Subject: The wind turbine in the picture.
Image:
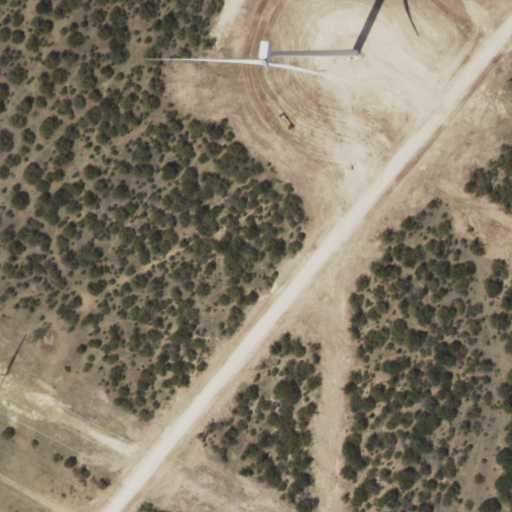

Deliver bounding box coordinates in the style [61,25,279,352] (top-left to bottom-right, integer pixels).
[152,42,364,88]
